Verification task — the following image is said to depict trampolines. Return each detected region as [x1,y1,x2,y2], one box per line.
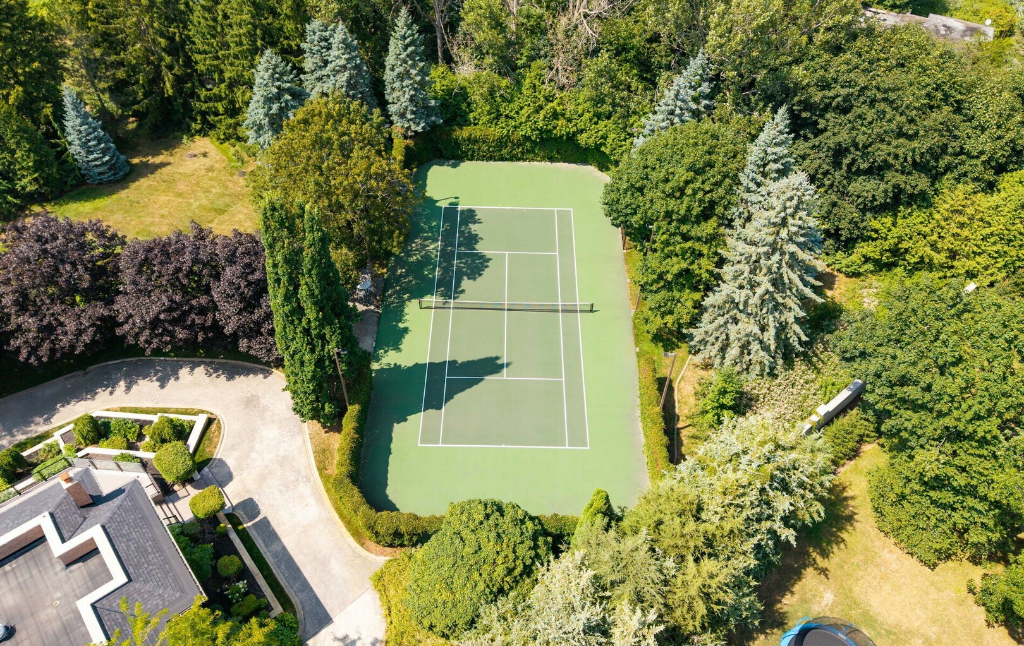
[780,609,870,646]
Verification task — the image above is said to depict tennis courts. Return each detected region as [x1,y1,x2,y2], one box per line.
[363,160,648,528]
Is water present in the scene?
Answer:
No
